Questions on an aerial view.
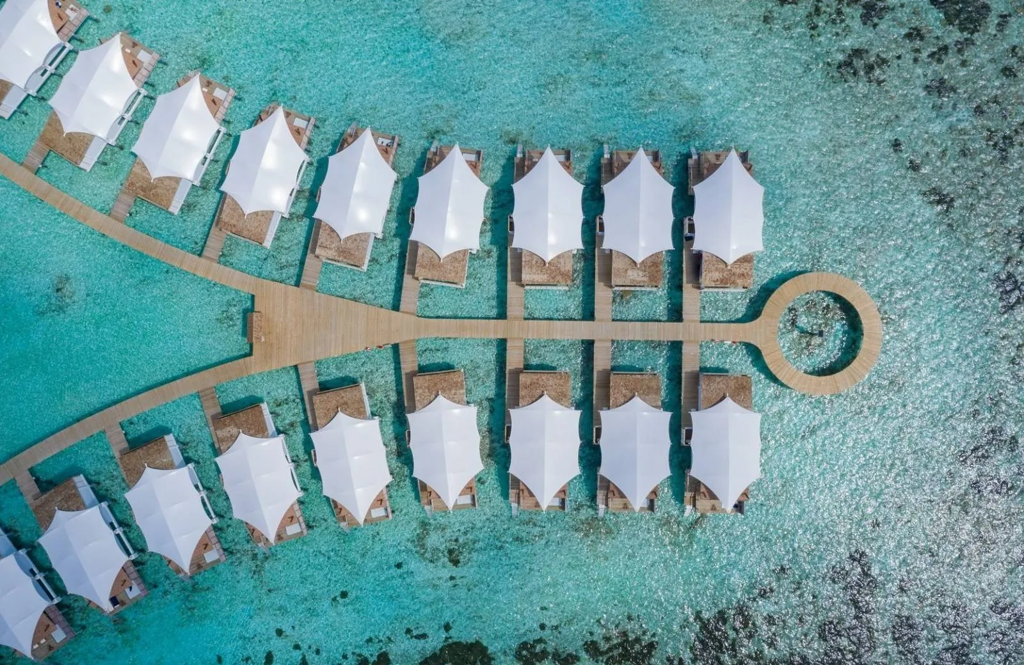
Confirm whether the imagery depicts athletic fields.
No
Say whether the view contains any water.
Yes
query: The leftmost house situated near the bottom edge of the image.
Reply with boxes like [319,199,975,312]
[0,517,87,661]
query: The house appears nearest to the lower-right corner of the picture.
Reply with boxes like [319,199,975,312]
[679,370,763,514]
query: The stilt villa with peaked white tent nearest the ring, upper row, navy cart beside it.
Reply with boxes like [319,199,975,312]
[682,147,766,292]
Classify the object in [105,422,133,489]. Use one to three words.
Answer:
pier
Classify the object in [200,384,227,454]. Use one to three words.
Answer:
pier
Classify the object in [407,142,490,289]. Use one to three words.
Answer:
house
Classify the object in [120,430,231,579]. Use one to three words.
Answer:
house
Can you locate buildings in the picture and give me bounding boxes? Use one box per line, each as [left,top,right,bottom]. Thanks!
[212,398,313,549]
[679,370,763,514]
[31,469,158,617]
[120,430,231,579]
[38,28,170,175]
[405,367,486,513]
[407,142,490,289]
[594,369,673,513]
[307,379,395,529]
[508,144,585,289]
[682,147,766,292]
[311,123,402,273]
[0,517,87,661]
[0,0,100,124]
[596,147,676,291]
[126,69,243,218]
[217,100,320,251]
[506,368,583,513]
